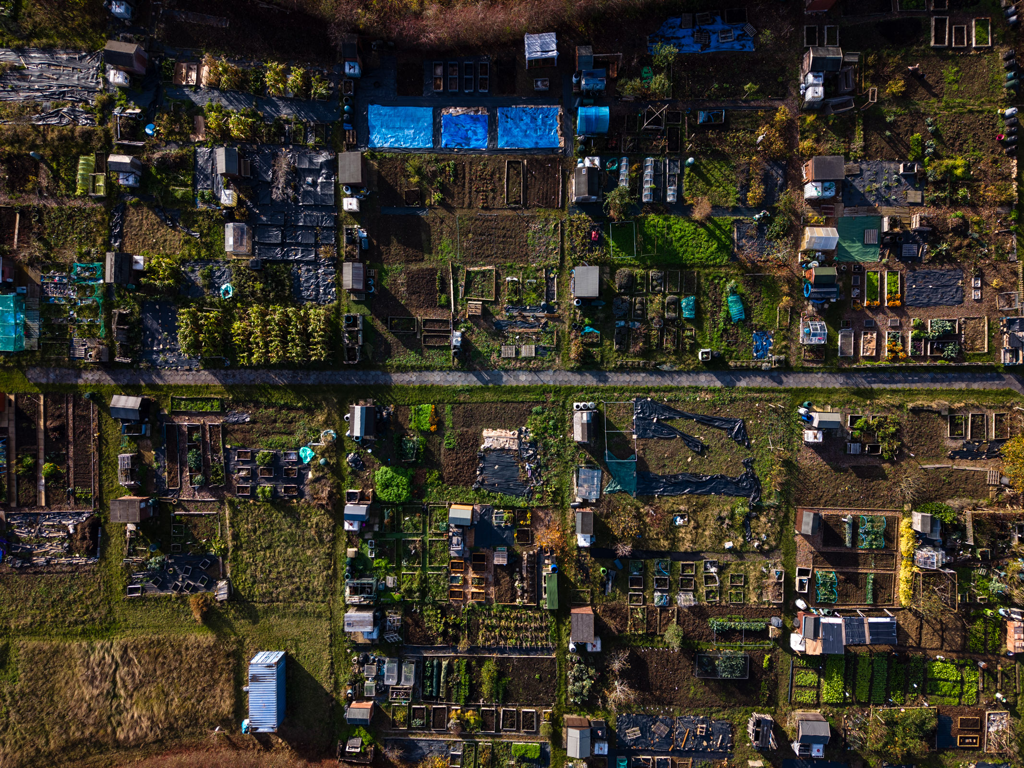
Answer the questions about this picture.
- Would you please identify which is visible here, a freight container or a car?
freight container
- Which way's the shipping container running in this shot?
vertically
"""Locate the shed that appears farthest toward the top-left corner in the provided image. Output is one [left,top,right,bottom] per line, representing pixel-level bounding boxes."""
[104,42,149,77]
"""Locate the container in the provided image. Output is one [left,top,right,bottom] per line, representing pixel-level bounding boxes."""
[248,650,288,734]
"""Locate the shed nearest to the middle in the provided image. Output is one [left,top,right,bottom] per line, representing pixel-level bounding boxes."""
[572,411,592,442]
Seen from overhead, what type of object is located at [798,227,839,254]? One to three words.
greenhouse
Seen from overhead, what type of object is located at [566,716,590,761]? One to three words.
shed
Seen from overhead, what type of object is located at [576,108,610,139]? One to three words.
greenhouse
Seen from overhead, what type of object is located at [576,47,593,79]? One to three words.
shed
